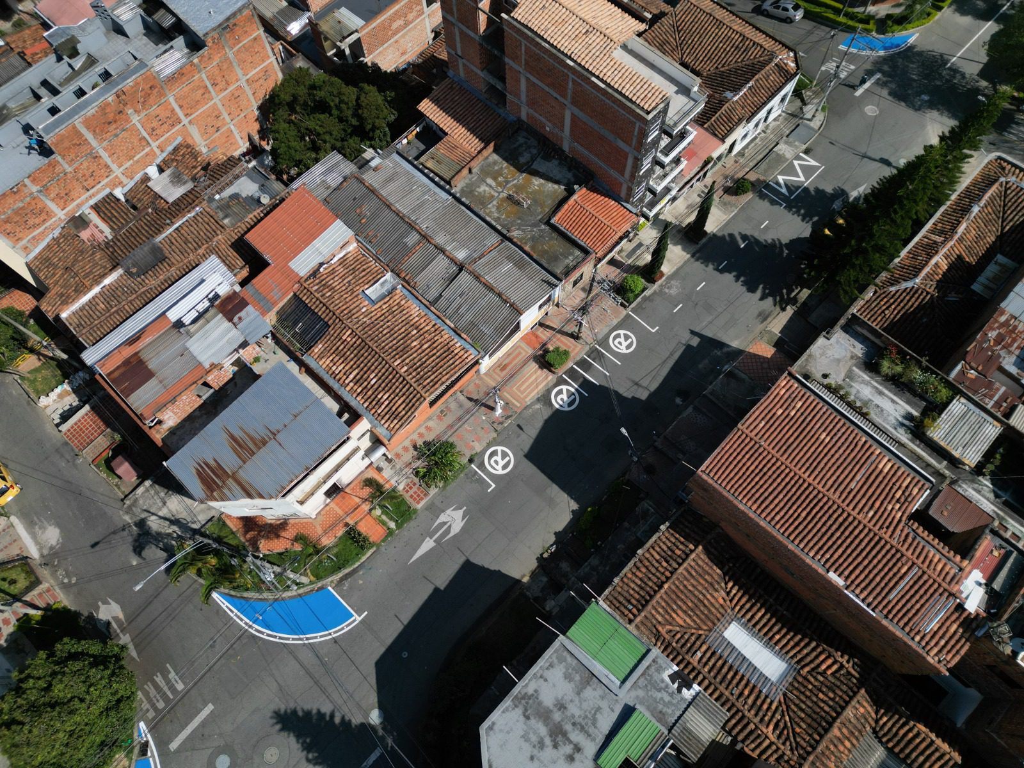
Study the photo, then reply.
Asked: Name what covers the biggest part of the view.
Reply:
buildings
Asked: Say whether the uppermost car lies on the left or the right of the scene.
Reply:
right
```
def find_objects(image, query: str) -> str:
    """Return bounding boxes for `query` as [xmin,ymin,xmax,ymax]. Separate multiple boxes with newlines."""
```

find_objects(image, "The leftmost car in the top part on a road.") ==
[761,0,808,23]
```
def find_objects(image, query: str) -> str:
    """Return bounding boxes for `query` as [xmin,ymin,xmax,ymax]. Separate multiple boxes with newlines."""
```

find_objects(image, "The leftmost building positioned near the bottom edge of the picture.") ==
[478,583,736,768]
